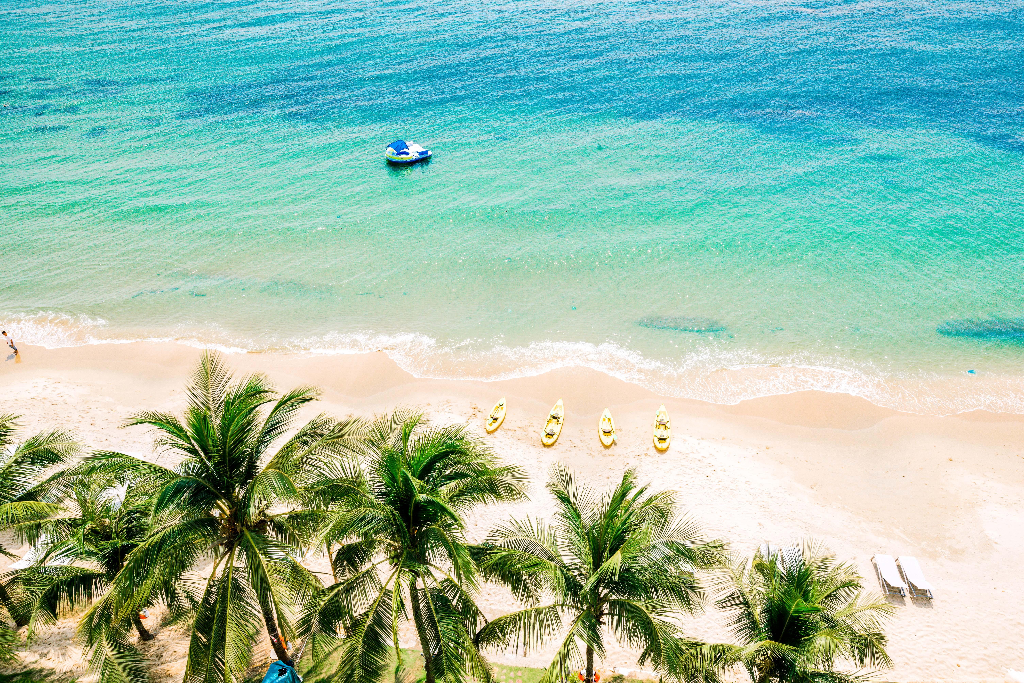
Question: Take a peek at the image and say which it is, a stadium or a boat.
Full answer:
Of the two, only a boat appears.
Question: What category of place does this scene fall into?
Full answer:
What you see here is a beach.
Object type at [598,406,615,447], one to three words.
boat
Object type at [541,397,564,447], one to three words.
boat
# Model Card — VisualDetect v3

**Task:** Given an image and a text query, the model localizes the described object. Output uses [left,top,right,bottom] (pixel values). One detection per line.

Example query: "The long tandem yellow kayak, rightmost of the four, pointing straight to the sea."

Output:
[652,403,671,452]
